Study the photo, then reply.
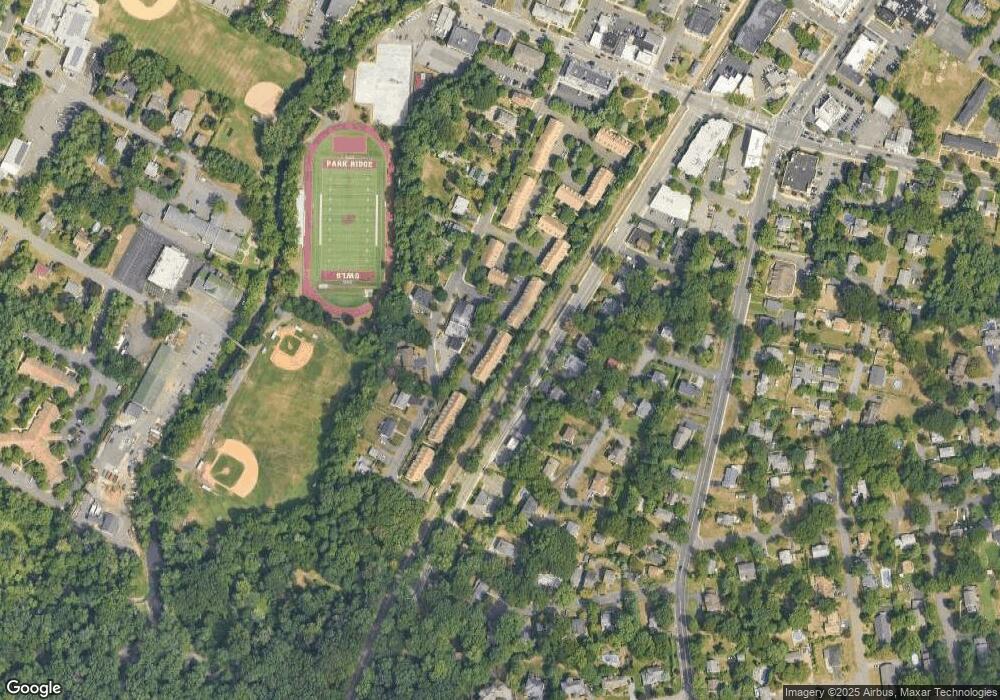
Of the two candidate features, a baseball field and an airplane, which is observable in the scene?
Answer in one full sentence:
I can see a baseball field in this picture.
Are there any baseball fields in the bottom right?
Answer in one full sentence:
No, there is no baseball field in the bottom right.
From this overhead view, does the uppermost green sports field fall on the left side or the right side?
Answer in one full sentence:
It is on the left.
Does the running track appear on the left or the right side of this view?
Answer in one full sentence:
The running track is on the left side of the image.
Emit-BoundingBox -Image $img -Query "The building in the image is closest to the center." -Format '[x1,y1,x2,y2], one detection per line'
[474,331,513,384]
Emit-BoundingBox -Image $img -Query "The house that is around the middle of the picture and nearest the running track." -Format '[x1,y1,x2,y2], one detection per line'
[410,282,439,309]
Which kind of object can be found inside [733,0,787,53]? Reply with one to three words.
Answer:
building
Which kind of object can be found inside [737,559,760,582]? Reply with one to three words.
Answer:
house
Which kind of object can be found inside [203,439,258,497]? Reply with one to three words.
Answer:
baseball field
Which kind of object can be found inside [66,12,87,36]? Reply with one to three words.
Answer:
solar array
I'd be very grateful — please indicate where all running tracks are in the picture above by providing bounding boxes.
[304,121,396,317]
